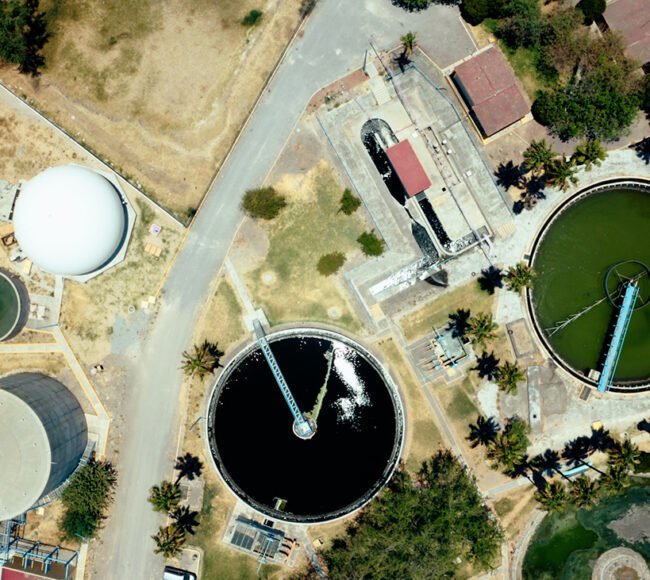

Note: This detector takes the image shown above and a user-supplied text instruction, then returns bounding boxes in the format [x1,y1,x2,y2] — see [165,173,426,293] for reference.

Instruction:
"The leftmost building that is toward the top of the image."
[453,46,531,138]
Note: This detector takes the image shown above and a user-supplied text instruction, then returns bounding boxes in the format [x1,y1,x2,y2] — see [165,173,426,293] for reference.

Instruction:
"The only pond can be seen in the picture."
[517,471,650,580]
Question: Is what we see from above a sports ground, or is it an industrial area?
industrial area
